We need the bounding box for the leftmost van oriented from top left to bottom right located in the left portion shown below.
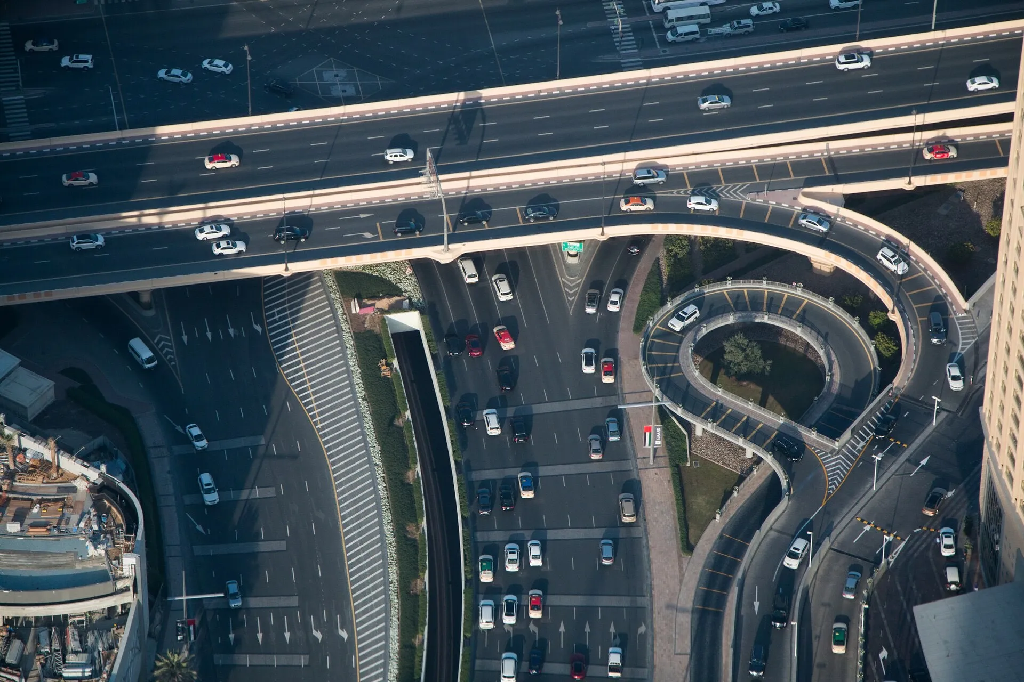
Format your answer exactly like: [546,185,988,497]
[128,337,157,370]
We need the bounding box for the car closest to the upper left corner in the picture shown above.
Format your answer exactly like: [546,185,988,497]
[25,38,58,53]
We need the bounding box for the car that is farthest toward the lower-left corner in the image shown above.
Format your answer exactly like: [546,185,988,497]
[225,580,242,610]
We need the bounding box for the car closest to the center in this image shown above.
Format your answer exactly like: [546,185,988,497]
[496,326,512,353]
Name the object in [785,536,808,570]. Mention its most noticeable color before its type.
white car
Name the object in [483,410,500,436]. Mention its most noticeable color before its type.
white car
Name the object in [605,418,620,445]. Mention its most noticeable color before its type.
blue car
